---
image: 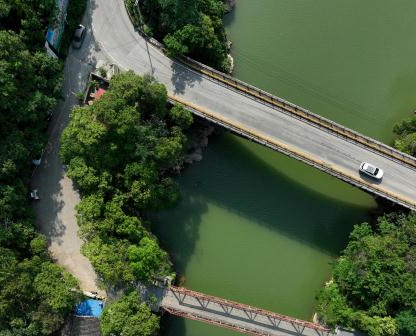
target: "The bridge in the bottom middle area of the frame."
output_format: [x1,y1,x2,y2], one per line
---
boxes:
[153,285,341,336]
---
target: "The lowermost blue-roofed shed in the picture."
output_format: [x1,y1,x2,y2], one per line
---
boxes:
[74,298,105,317]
